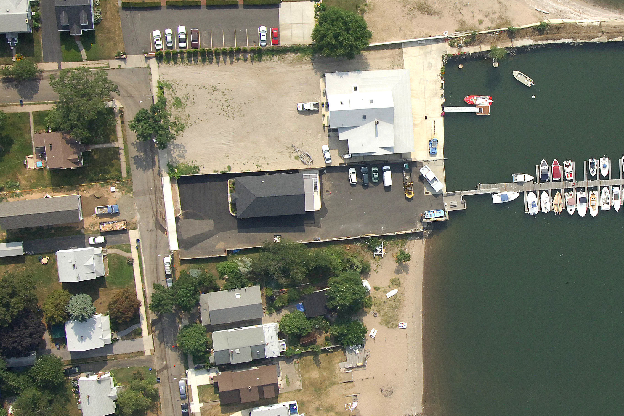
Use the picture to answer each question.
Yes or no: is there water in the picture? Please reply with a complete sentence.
Yes, there is water in the image.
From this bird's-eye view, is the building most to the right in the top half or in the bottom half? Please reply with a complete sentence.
It is in the top half that the building most to the right appears.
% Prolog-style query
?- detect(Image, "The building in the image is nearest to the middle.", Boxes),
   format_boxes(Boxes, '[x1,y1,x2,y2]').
[229,173,319,217]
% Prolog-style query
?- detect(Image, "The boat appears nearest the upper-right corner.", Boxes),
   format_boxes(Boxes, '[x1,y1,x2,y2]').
[513,72,534,88]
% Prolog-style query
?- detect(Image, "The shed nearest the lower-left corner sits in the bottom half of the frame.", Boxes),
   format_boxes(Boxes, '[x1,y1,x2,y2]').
[6,352,36,370]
